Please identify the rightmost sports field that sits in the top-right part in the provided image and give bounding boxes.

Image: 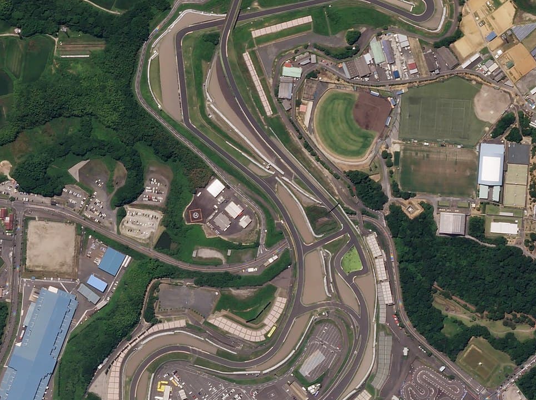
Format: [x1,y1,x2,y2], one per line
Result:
[474,85,512,123]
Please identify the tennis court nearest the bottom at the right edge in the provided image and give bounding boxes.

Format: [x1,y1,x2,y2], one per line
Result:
[505,185,527,206]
